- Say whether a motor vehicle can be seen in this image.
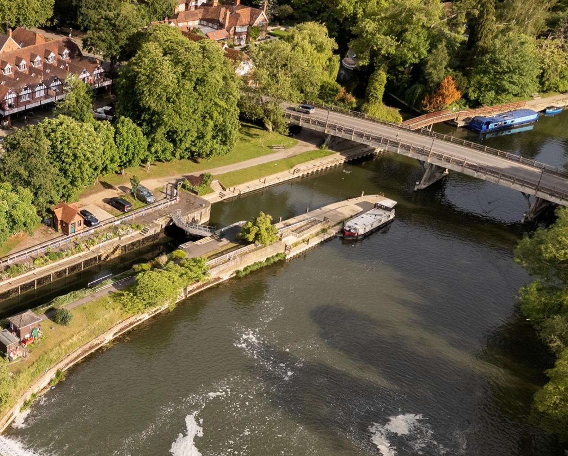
Yes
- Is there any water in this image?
Yes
